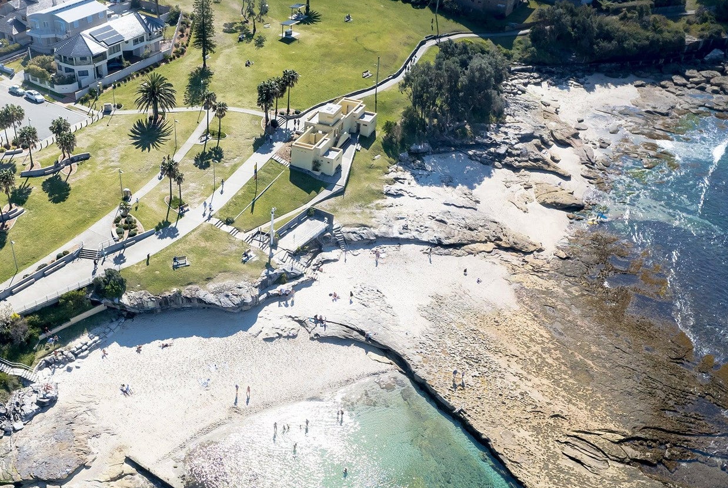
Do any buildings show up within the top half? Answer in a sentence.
Yes, the scene does show a building within the top half.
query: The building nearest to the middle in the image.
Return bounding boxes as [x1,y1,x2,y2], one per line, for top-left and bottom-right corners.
[287,98,387,180]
